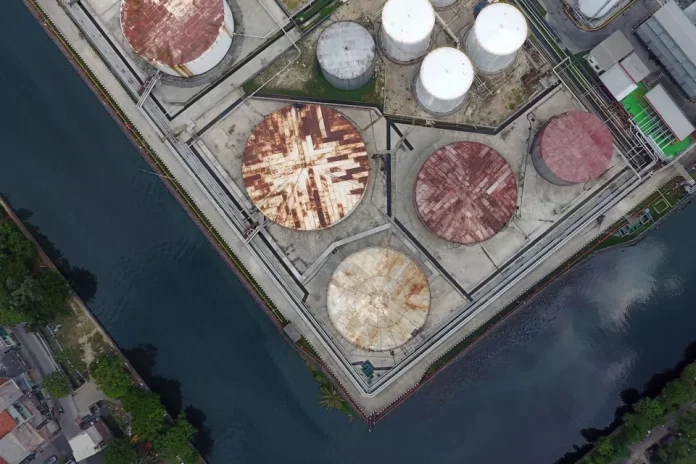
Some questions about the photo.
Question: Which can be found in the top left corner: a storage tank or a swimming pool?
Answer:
storage tank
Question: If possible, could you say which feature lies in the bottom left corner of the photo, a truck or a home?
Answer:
home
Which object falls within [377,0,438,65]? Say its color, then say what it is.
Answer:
white storage tank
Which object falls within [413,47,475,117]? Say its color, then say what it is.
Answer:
white storage tank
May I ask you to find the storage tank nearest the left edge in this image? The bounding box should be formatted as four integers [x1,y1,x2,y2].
[120,0,243,85]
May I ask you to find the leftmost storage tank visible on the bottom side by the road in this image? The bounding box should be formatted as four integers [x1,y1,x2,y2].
[328,245,431,351]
